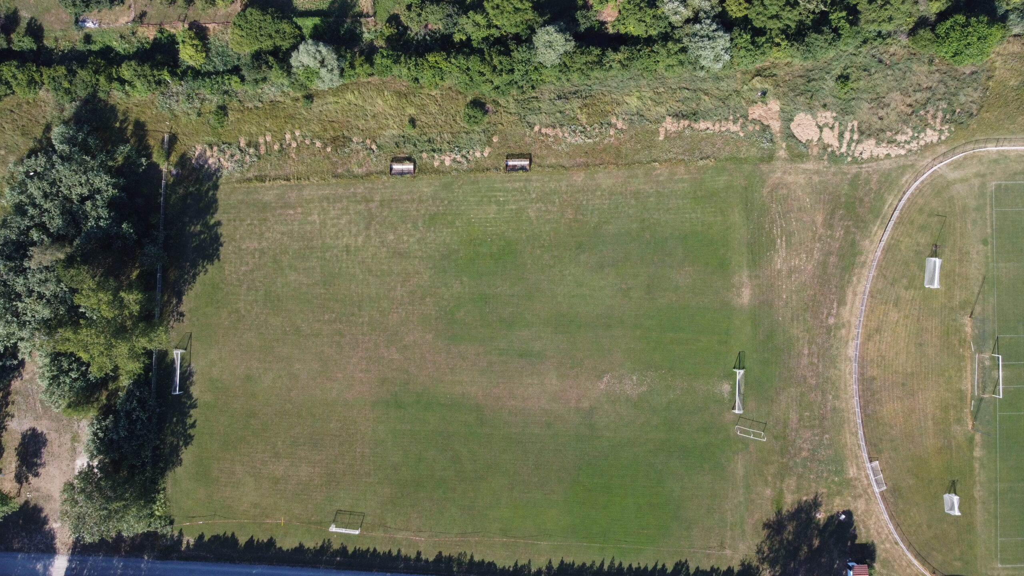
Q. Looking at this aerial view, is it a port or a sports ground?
sports ground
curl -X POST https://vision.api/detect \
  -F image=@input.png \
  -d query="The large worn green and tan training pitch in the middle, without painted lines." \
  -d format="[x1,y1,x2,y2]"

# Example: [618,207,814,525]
[174,164,756,549]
